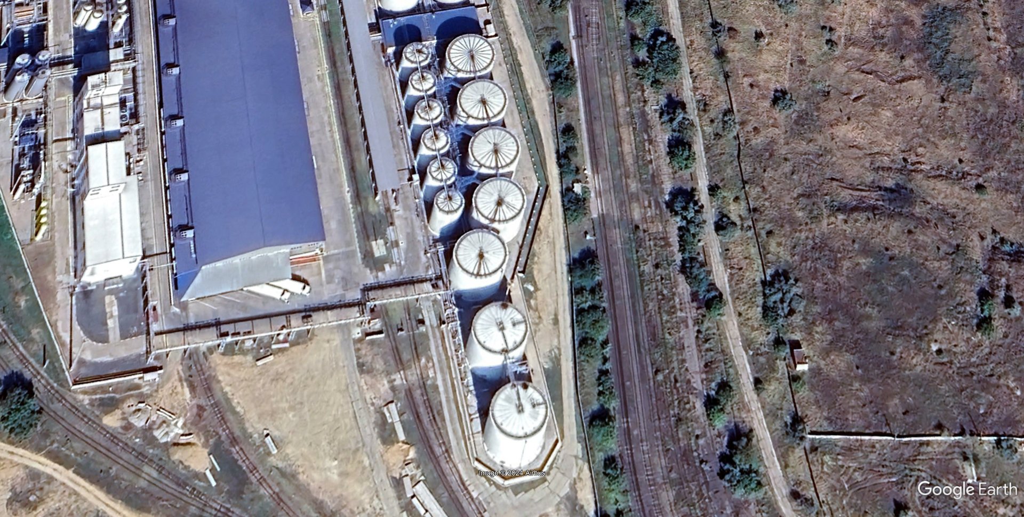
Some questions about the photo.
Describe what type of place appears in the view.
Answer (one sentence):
The picture captures an industrial area.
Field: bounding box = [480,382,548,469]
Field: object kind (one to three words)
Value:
storage tank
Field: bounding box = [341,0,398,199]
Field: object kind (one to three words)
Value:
shed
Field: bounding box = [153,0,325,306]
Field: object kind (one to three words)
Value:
warehouse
